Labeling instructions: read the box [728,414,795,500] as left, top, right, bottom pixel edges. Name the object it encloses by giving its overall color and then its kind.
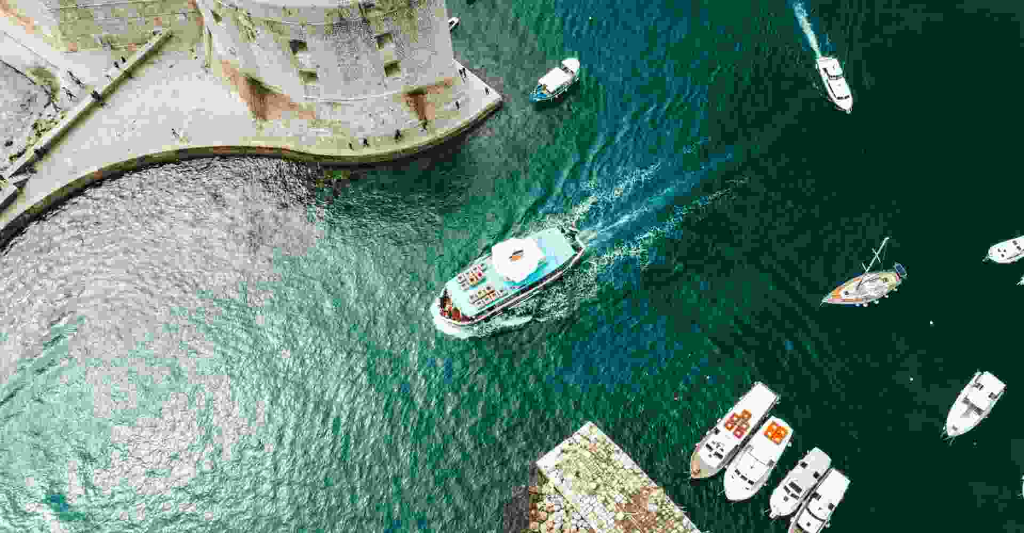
white boat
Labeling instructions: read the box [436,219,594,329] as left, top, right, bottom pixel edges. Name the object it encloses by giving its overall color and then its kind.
white ship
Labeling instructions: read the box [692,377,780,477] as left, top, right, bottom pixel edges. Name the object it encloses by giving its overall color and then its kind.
white boat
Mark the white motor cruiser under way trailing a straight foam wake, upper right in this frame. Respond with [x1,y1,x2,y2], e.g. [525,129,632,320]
[821,54,853,114]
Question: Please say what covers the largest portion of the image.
water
